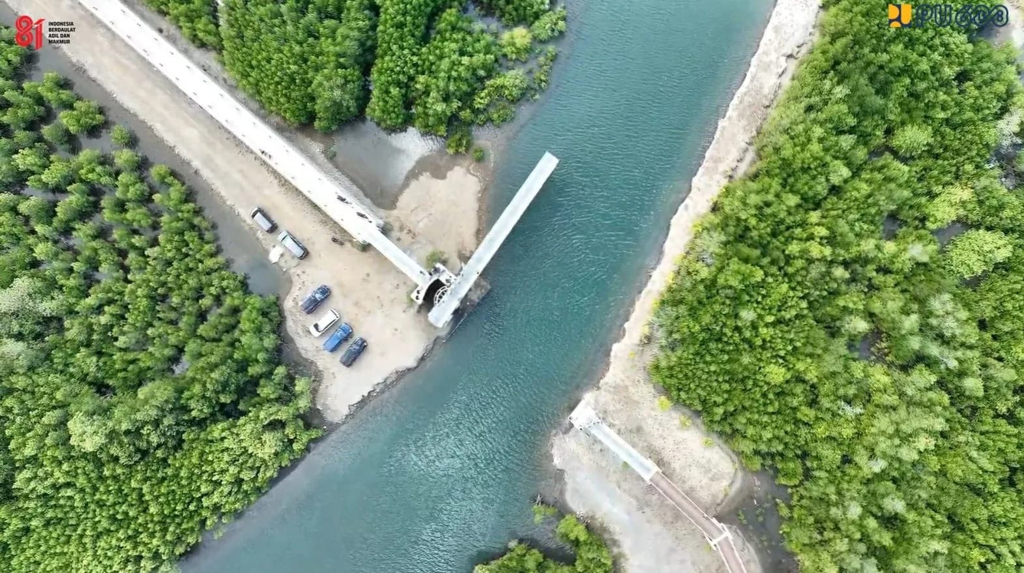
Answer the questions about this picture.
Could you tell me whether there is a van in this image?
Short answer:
Yes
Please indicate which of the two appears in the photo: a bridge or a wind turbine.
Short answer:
bridge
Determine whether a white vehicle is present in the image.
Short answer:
Yes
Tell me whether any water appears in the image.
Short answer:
Yes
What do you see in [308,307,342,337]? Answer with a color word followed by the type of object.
white car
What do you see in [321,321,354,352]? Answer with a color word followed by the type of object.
blue truck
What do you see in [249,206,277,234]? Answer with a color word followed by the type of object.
white van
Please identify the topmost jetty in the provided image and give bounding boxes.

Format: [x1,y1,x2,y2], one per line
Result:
[410,263,456,304]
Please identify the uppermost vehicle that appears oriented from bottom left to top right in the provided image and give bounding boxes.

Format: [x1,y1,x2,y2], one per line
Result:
[298,283,331,313]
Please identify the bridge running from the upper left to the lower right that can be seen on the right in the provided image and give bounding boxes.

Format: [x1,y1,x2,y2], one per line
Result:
[589,422,663,487]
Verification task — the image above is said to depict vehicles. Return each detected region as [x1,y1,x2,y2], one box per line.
[277,229,310,260]
[338,336,369,367]
[331,238,343,245]
[298,283,331,313]
[257,149,270,157]
[337,193,348,202]
[355,212,367,219]
[308,307,342,337]
[249,206,277,234]
[321,321,354,352]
